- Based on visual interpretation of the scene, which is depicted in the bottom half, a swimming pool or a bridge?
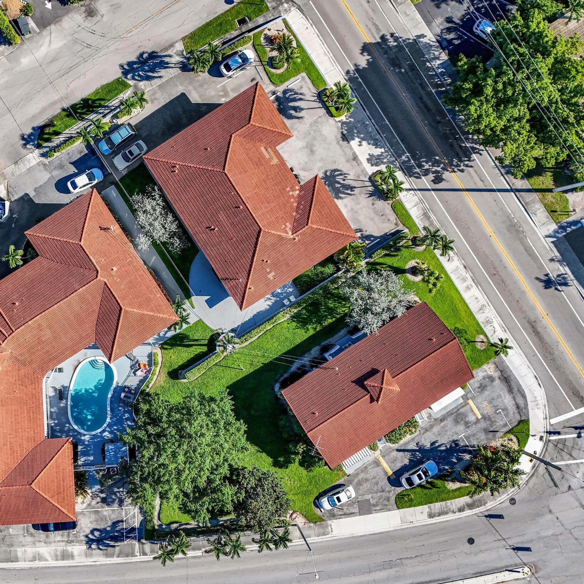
swimming pool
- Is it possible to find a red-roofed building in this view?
Yes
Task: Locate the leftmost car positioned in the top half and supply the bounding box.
[65,166,105,192]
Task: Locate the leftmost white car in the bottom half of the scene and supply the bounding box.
[318,481,357,510]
